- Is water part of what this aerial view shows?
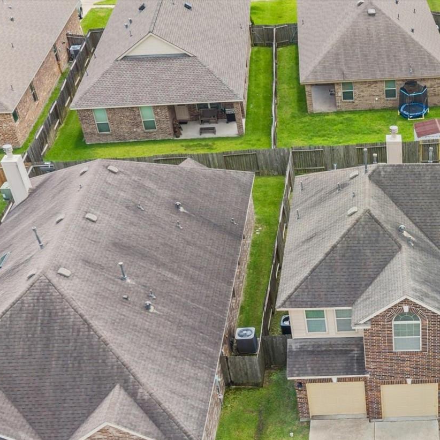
No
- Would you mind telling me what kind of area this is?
residential area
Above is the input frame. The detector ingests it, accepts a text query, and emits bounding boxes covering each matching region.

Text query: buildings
[66,0,254,143]
[414,111,440,145]
[275,125,440,422]
[298,0,440,112]
[0,0,77,148]
[0,148,257,440]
